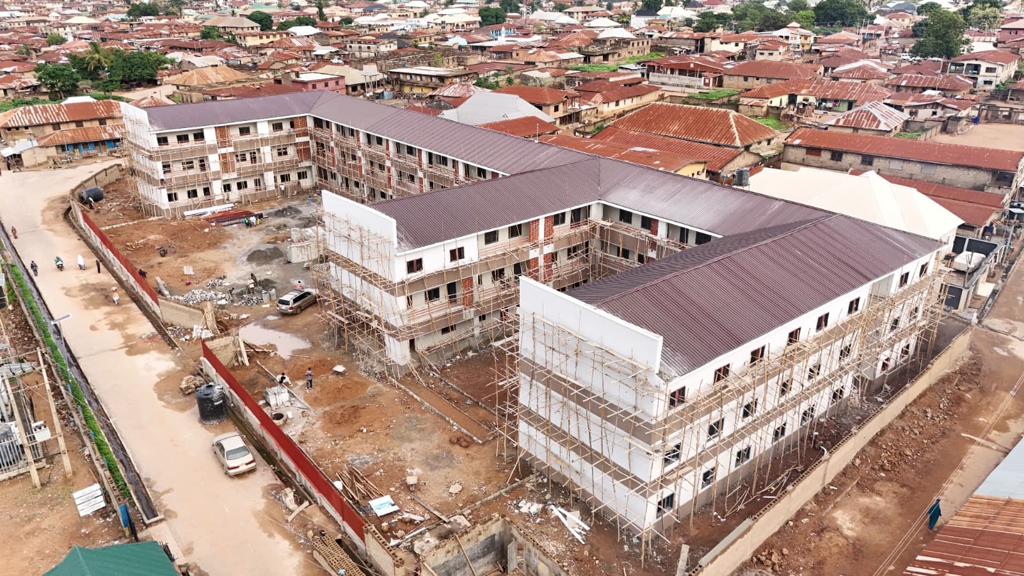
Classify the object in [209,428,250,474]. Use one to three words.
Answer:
car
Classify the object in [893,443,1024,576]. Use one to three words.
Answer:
shed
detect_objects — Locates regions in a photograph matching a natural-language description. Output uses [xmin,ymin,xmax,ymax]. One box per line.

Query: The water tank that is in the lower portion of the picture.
[193,381,226,425]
